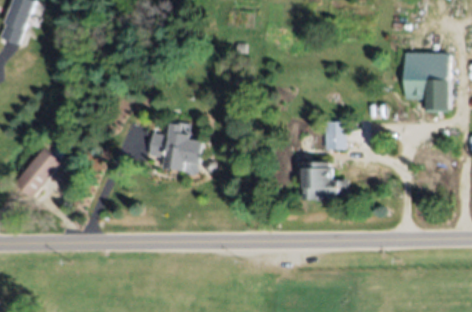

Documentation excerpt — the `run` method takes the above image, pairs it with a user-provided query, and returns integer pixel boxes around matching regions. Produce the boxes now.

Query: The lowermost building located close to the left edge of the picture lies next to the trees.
[18,150,61,198]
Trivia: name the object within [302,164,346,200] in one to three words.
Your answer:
house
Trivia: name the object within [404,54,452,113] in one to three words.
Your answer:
barn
